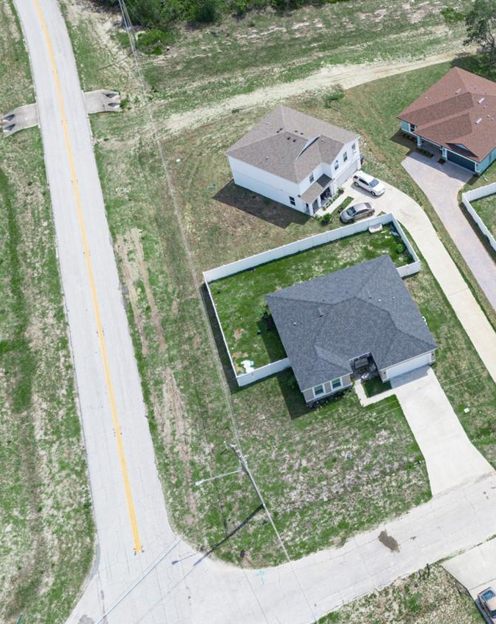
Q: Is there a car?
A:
Yes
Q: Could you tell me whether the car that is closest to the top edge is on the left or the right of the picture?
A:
right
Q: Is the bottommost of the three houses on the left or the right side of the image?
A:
right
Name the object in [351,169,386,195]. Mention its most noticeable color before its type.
white car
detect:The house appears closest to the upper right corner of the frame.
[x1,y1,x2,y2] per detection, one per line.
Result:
[397,68,496,176]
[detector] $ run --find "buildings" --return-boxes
[225,107,361,218]
[267,255,438,401]
[397,68,496,176]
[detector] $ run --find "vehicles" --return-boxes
[338,201,377,221]
[472,582,496,624]
[351,169,386,195]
